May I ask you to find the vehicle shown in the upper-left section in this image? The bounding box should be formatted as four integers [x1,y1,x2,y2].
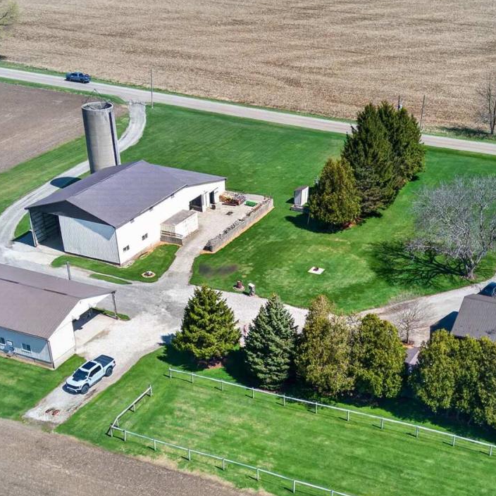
[63,69,90,81]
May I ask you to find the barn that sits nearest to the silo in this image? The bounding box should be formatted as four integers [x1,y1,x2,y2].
[25,159,228,265]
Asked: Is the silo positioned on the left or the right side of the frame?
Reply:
left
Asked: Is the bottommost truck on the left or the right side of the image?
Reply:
left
